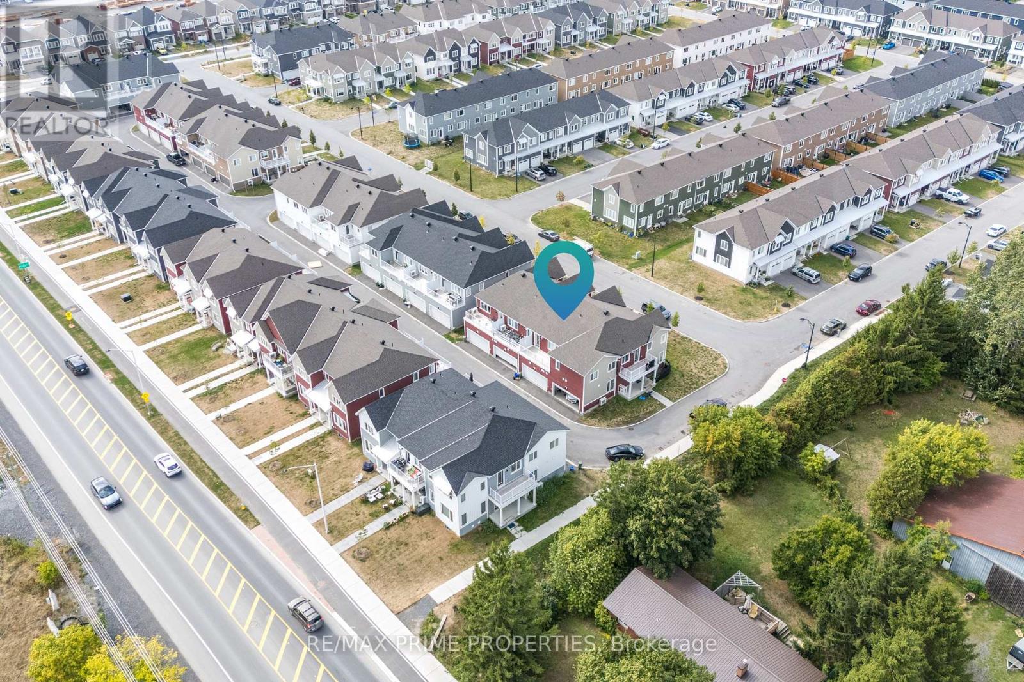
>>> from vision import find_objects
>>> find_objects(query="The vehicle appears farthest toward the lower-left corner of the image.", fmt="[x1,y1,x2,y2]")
[94,479,123,509]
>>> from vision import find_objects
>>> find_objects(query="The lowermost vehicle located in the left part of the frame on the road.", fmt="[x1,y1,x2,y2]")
[286,597,322,631]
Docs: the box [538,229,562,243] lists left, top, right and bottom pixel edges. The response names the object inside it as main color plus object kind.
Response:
gray car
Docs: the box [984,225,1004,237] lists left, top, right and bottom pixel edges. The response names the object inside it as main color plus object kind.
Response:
white vehicle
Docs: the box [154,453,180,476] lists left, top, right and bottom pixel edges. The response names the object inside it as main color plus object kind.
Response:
white car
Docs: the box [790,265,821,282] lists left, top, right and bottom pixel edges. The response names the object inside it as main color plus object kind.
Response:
gray car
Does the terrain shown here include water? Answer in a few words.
No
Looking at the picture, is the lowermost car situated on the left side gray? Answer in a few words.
Yes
